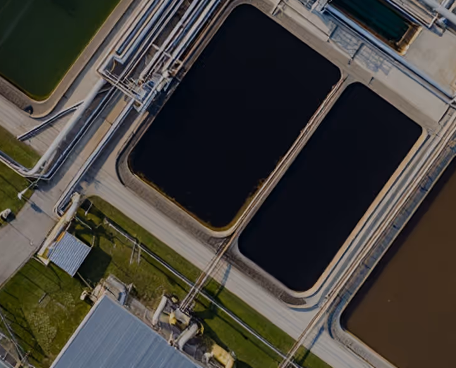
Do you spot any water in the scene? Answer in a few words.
Yes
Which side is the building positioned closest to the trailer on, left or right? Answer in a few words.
left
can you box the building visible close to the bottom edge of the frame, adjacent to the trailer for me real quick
[49,277,209,368]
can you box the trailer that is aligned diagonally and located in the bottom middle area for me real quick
[209,338,247,368]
